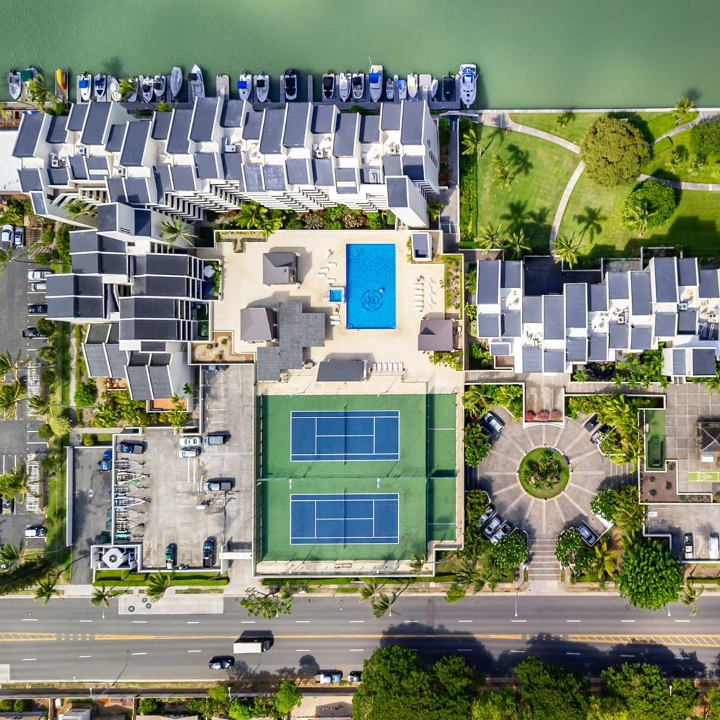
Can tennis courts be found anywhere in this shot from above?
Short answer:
Yes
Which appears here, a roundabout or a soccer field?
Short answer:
roundabout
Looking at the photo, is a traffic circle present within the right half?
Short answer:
Yes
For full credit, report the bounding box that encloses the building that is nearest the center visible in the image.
[316,361,371,381]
